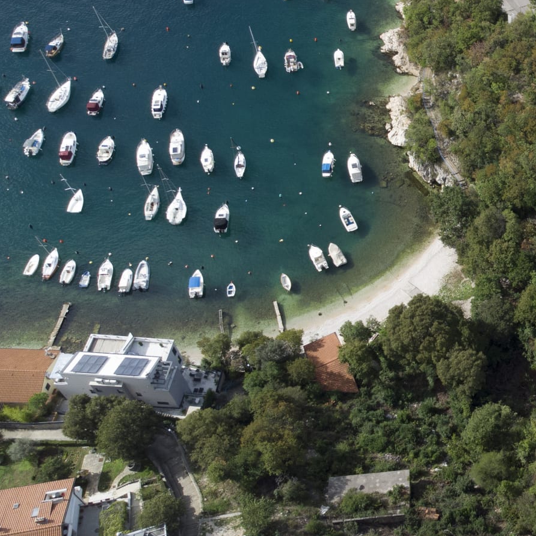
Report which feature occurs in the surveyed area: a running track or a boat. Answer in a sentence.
The one in the frame is a boat.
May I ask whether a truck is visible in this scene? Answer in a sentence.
No, I can't see a single truck in this photo.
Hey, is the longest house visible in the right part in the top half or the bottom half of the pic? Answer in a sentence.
You can find the longest house visible in the right part in the bottom half.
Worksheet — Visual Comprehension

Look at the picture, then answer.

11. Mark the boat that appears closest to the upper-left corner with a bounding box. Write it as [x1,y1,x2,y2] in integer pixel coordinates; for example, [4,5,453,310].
[9,20,29,55]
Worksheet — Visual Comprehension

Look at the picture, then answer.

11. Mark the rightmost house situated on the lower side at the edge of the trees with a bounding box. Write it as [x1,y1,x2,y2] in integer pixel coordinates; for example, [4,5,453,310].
[305,332,359,393]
